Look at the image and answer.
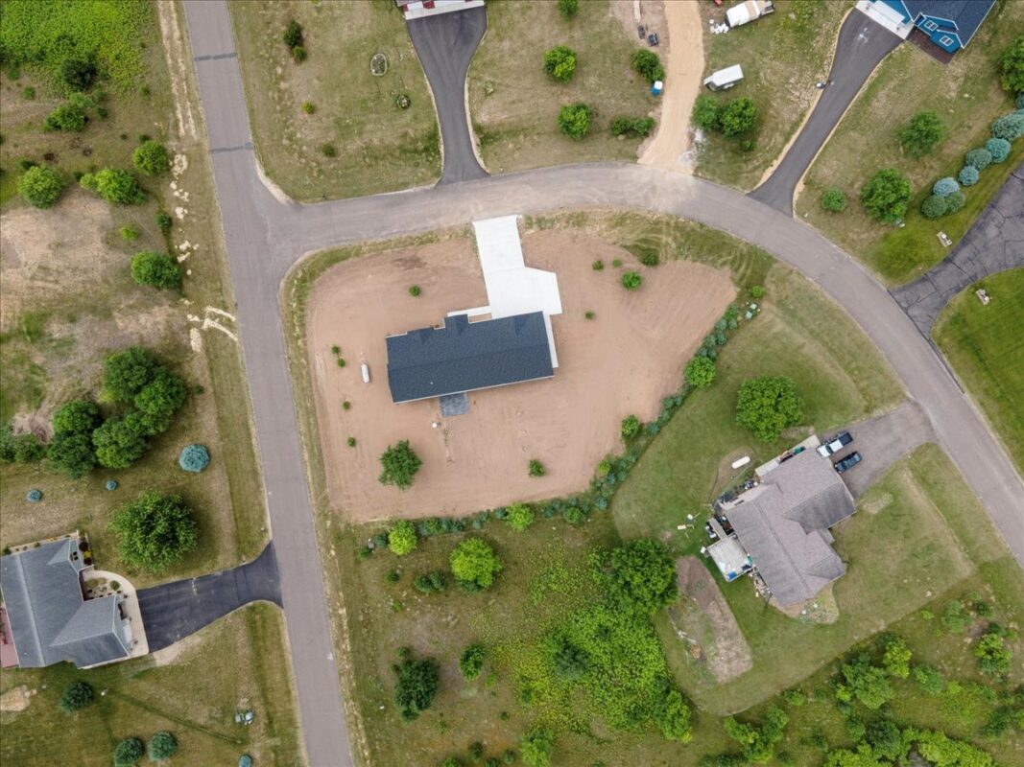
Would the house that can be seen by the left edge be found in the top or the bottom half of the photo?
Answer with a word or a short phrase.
bottom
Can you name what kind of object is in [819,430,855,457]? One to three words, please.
truck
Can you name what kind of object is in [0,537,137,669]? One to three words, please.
house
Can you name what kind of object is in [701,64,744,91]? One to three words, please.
trailer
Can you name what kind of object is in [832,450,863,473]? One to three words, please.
car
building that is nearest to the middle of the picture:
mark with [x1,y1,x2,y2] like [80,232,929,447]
[385,310,553,403]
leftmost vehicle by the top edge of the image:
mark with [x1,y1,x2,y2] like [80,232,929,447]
[646,32,659,49]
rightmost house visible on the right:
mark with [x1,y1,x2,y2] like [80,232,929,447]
[858,0,994,56]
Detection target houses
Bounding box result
[858,0,994,56]
[394,0,488,16]
[0,537,137,669]
[725,446,855,603]
[385,310,553,403]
